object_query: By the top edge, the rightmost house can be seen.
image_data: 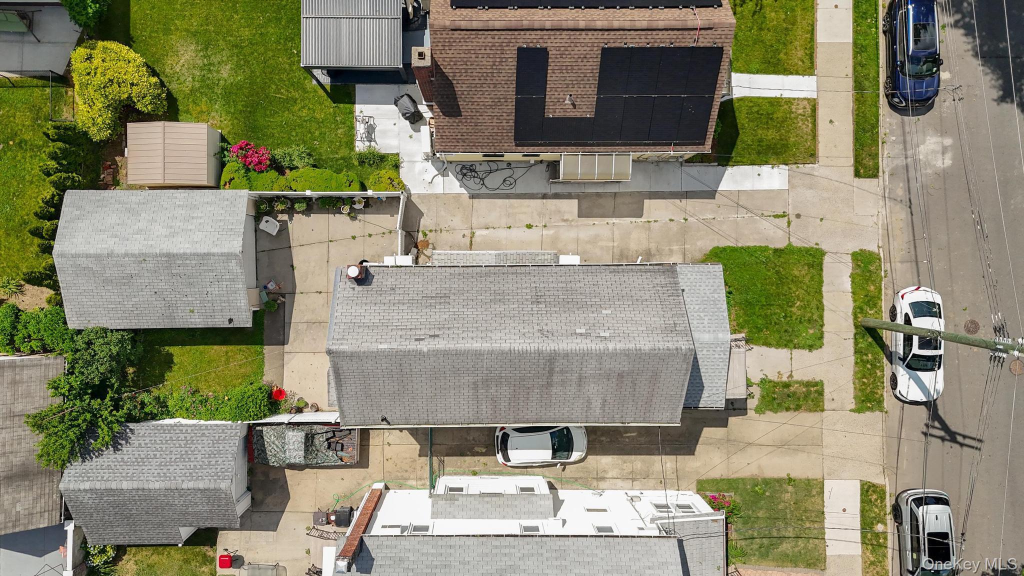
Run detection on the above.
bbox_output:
[411,0,736,190]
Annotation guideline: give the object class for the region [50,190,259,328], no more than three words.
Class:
building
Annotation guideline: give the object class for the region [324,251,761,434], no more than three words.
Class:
house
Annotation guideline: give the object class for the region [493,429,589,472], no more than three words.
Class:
car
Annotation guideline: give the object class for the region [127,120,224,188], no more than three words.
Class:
shed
